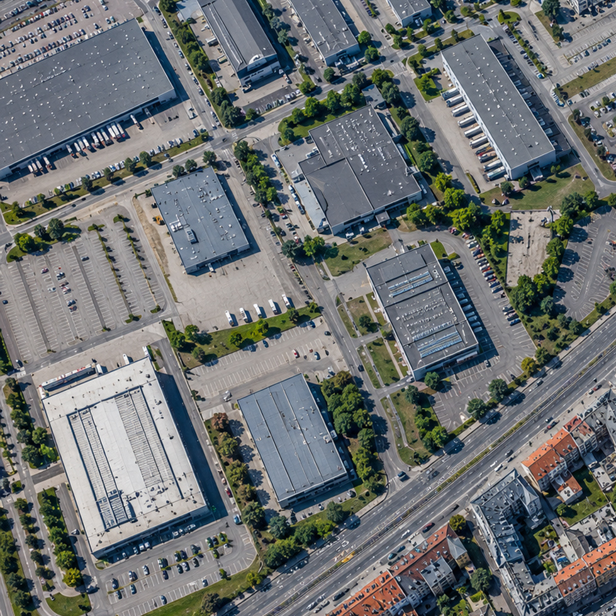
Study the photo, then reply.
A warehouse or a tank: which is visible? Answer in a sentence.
The image shows a warehouse.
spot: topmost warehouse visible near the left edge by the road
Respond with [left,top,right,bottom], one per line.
[0,18,177,182]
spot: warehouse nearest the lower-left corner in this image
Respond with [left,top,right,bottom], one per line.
[41,356,210,562]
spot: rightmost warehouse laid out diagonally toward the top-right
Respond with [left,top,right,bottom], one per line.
[441,33,555,179]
